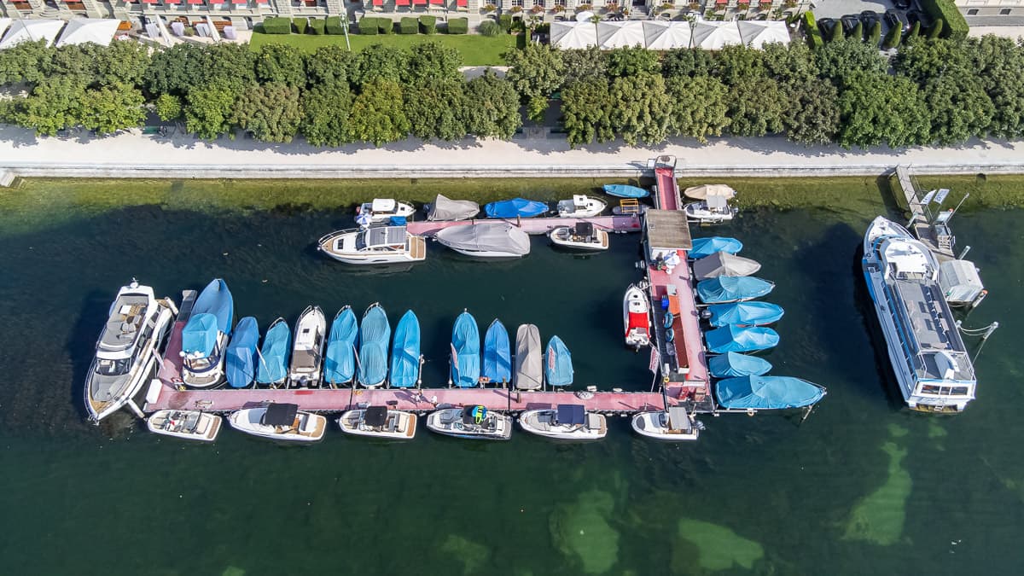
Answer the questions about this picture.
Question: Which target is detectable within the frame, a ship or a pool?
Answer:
ship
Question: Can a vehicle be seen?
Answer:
Yes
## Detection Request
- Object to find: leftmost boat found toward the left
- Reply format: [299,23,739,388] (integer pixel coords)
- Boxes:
[86,273,180,427]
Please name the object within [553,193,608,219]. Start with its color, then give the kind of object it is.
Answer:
white boat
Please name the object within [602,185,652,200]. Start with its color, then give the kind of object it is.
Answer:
blue boat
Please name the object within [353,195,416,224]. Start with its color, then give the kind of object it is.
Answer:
white boat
